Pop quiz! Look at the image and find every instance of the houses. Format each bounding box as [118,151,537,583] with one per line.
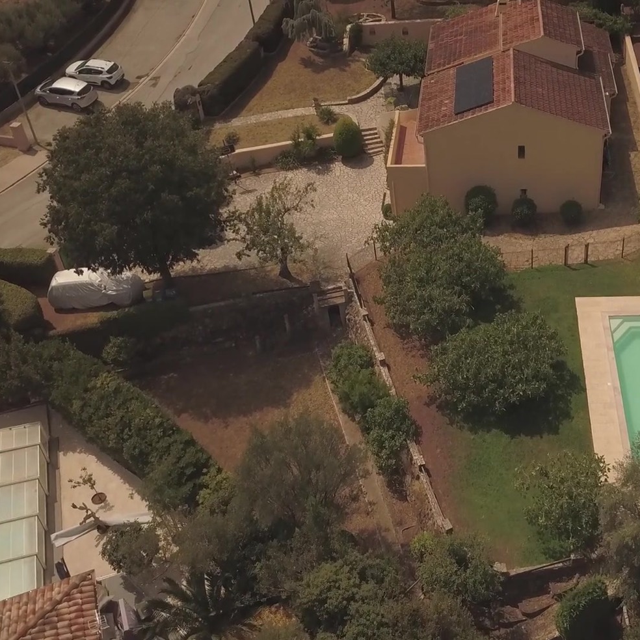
[387,0,620,215]
[0,567,107,640]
